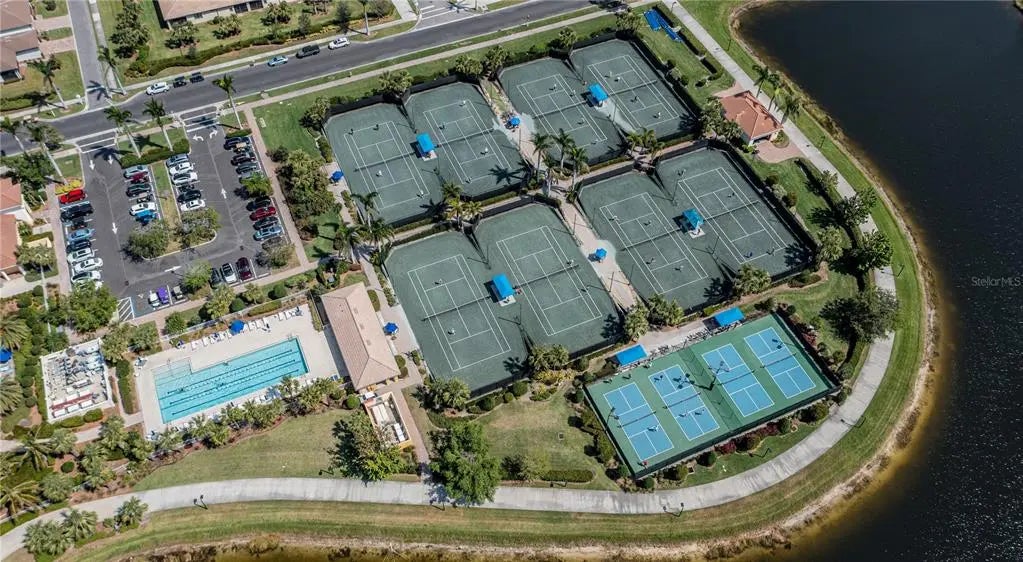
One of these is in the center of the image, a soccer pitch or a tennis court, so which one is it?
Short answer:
tennis court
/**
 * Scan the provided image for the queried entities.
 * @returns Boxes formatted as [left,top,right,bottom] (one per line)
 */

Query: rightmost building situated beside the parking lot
[317,281,400,393]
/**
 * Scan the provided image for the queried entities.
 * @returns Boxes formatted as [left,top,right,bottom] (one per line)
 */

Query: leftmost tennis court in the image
[322,102,453,229]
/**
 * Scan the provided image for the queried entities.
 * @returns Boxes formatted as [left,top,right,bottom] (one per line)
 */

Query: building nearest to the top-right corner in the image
[715,90,783,145]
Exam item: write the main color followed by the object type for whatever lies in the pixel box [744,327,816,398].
blue sports court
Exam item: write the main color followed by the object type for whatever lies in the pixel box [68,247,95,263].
white car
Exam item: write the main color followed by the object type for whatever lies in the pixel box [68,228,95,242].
blue vehicle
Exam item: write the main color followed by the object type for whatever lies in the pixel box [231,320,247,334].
blue umbrella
